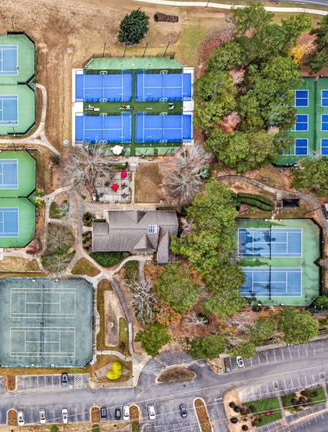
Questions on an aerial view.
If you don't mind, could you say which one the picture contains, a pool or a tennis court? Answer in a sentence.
Visible in the photo is a tennis court.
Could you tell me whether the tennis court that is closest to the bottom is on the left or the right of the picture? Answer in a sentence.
The tennis court that is closest to the bottom sits on the left side.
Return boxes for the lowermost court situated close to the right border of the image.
[231,262,319,306]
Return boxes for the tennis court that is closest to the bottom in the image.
[0,322,95,367]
